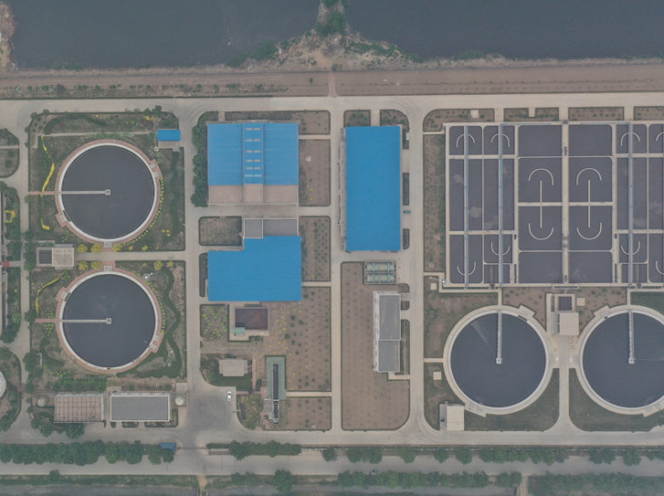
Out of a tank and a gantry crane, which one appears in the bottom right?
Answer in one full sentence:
Looking in the bottom right, you will find a tank.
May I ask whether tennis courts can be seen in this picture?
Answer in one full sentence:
No, I can't see a single tennis court in this photo.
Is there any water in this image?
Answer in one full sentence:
Yes, there's water in this view.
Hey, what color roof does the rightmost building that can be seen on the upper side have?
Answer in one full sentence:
From above, the roof of the rightmost building that can be seen on the upper side looks blue.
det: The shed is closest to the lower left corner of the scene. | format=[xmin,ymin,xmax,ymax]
[55,393,104,422]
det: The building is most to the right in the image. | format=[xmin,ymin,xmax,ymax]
[552,294,579,335]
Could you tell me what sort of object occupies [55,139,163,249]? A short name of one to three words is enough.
storage tank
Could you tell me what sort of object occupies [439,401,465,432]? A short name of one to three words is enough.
building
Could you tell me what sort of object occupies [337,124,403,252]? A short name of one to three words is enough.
building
